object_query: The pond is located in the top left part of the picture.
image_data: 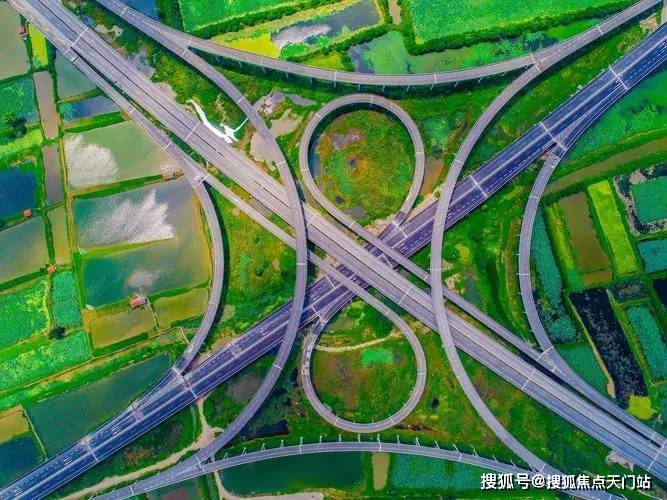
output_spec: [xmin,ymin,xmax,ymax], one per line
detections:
[0,75,40,139]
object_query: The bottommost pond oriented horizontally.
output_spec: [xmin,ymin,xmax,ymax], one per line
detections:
[391,457,528,490]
